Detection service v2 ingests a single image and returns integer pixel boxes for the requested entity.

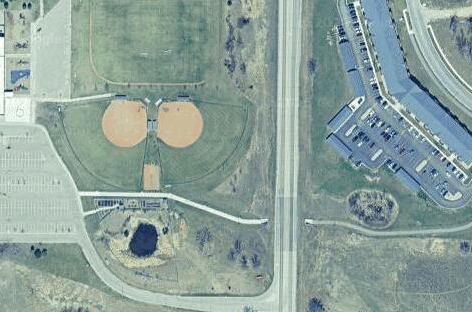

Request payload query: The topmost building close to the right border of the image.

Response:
[359,0,472,170]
